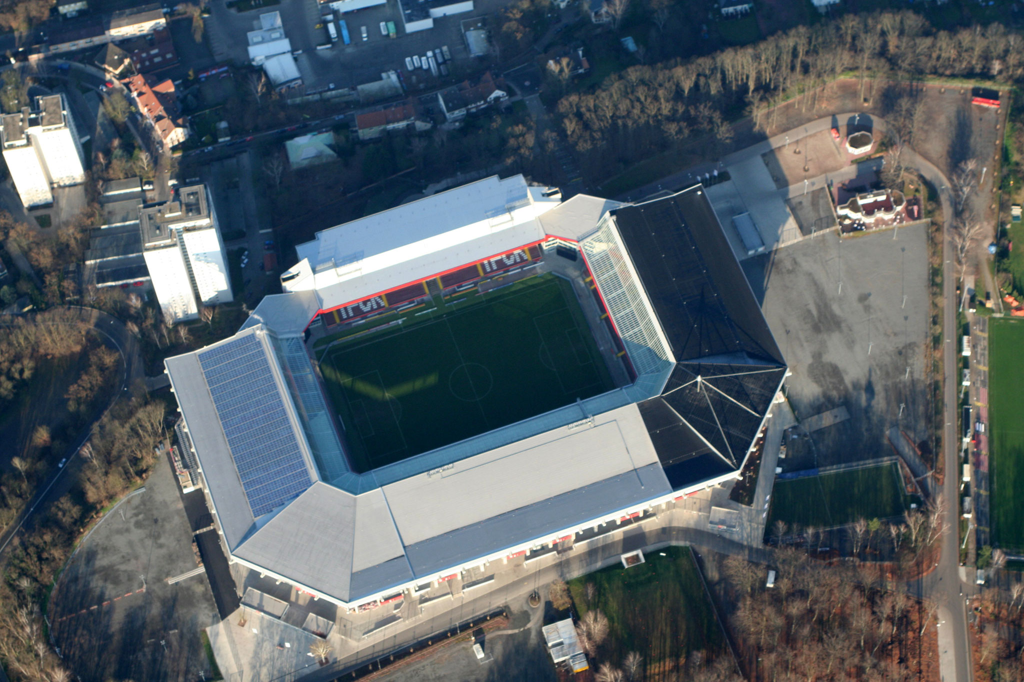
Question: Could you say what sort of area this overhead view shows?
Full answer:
The area seen from above is a sports ground.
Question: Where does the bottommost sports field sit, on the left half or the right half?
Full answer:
It is on the right.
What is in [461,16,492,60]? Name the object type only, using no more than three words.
building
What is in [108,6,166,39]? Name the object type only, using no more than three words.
house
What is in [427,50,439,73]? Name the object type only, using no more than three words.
vehicle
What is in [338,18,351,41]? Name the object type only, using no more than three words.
vehicle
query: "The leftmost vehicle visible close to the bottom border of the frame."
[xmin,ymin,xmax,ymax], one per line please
[473,642,485,660]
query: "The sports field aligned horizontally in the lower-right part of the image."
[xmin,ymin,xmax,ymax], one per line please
[764,456,912,547]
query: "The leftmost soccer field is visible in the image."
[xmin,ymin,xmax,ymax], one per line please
[318,271,616,472]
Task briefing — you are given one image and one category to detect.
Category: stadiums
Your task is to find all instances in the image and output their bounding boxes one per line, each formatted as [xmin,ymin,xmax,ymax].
[164,169,790,608]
